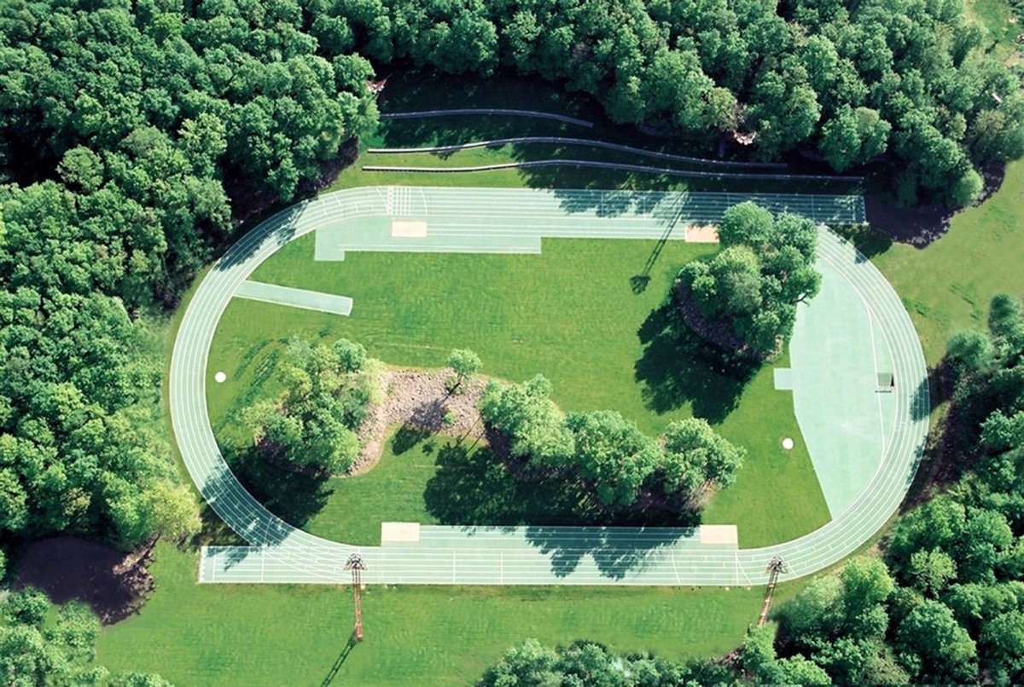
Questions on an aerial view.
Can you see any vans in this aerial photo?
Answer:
No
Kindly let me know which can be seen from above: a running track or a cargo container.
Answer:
running track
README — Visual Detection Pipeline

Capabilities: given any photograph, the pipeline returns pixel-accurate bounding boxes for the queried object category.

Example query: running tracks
[169,185,930,585]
